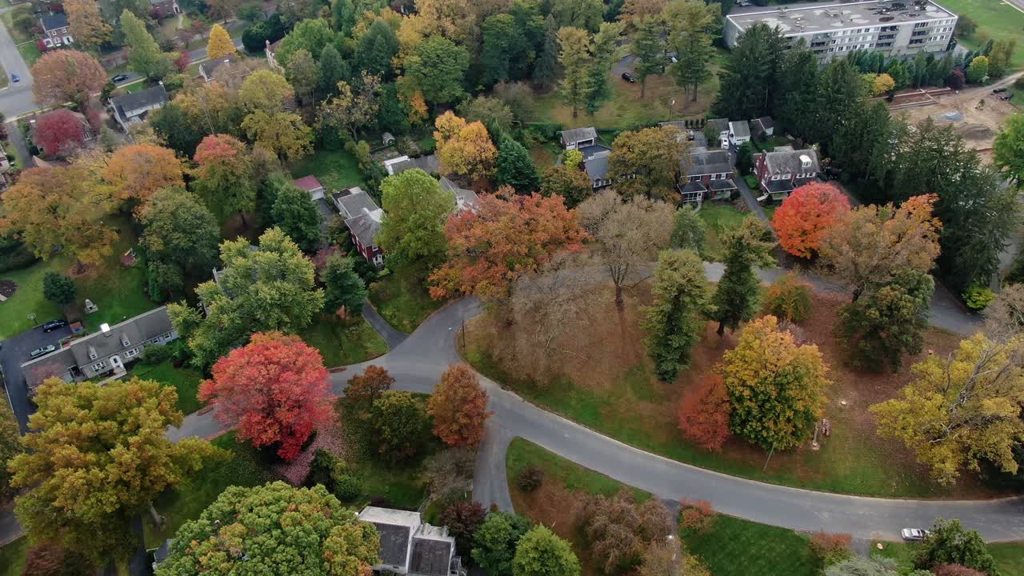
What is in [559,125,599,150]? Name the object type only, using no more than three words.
building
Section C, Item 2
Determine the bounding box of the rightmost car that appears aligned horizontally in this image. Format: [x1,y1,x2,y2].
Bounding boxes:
[900,527,934,543]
